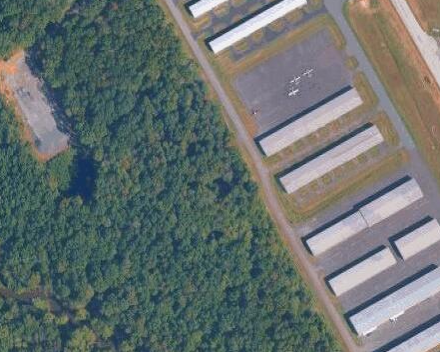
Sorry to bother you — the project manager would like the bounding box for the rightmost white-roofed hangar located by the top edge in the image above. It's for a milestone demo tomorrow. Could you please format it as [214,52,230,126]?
[209,0,307,54]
